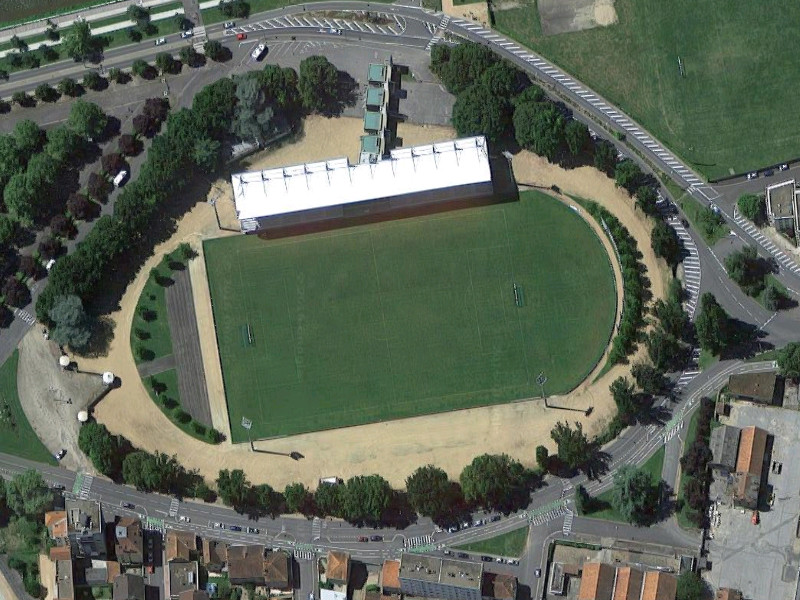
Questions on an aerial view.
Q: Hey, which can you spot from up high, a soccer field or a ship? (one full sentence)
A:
I can see a soccer field in this picture.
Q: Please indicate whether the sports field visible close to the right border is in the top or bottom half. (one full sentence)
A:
The sports field visible close to the right border sits in the top half of the picture.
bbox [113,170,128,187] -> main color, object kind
white vehicle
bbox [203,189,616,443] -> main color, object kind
green soccer field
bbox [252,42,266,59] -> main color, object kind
white camper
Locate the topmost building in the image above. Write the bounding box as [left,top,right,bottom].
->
[369,64,387,88]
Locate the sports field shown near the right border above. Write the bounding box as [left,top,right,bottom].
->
[491,0,800,182]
